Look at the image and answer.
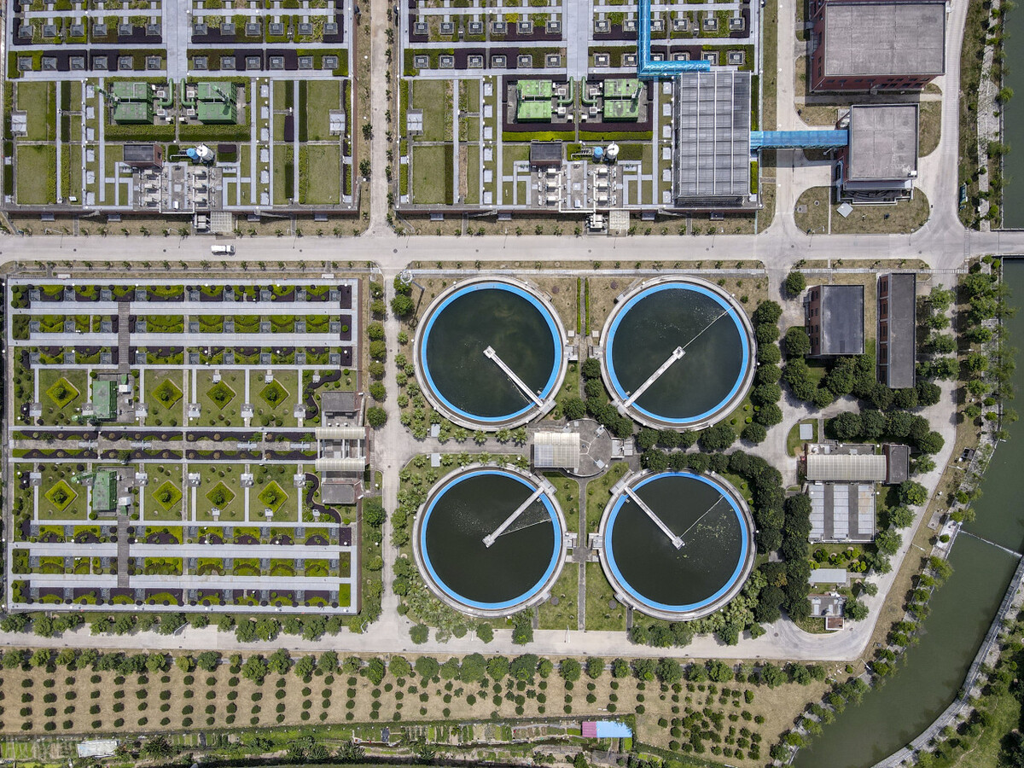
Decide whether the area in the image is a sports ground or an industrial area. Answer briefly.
industrial area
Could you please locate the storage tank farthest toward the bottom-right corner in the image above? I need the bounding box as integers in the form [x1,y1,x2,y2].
[599,464,755,620]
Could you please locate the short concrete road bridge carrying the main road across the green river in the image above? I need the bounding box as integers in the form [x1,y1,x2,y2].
[989,229,1024,256]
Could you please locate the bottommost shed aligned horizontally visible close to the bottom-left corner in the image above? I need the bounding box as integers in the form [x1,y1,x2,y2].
[77,736,121,756]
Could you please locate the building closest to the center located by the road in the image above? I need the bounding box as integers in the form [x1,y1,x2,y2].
[531,417,633,479]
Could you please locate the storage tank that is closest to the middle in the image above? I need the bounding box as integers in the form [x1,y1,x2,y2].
[414,275,569,430]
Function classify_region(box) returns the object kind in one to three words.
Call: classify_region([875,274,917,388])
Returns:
building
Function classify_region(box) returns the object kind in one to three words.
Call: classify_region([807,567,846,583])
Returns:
shed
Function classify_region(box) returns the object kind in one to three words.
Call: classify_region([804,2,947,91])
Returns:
building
